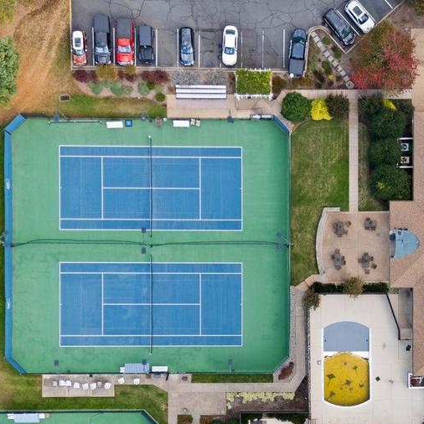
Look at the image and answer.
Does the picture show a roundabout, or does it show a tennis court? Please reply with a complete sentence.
There is a tennis court in the scene.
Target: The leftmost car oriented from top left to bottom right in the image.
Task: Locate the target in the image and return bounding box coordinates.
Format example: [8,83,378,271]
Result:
[323,7,353,48]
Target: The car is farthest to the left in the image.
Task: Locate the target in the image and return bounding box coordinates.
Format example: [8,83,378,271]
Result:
[71,32,87,66]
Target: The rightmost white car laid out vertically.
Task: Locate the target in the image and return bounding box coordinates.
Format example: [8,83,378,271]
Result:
[221,27,238,67]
